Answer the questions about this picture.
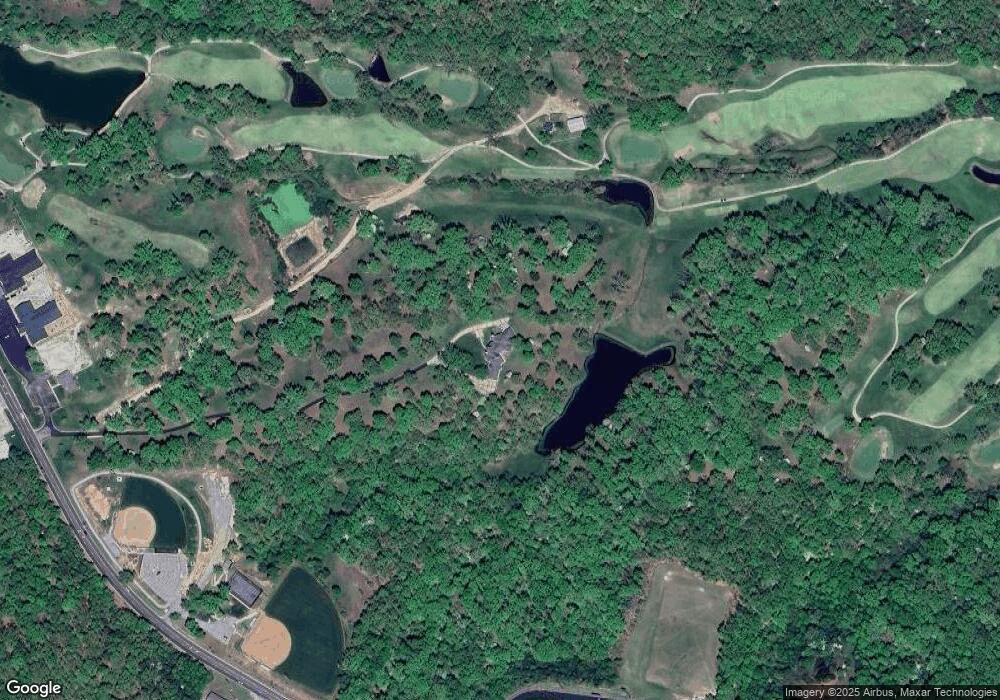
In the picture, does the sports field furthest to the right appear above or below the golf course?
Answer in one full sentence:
The sports field furthest to the right appears below the golf course in the picture.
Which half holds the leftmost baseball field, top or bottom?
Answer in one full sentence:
Seen from above, the leftmost baseball field lies in the bottom half of the view.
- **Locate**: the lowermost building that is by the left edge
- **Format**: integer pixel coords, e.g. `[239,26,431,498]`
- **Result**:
[13,301,62,345]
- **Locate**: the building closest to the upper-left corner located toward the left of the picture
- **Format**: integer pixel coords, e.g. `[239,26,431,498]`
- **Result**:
[0,248,45,296]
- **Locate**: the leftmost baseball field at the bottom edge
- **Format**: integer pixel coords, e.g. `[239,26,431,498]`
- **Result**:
[240,566,347,693]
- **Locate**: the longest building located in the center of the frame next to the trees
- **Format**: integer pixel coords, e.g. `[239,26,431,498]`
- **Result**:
[484,325,514,377]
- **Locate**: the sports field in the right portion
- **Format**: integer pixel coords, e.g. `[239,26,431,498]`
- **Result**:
[620,559,739,700]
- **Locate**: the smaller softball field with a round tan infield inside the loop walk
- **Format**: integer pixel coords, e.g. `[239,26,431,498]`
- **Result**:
[113,475,189,554]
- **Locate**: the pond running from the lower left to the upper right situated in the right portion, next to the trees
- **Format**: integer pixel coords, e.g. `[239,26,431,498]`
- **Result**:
[538,333,676,453]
